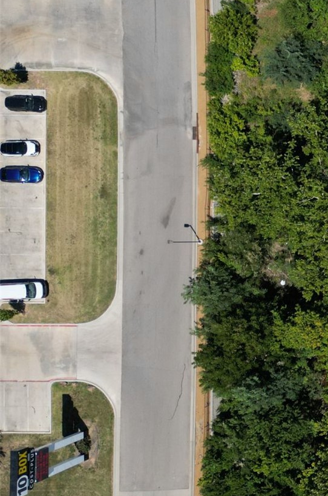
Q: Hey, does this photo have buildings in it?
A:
No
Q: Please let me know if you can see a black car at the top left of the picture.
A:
Yes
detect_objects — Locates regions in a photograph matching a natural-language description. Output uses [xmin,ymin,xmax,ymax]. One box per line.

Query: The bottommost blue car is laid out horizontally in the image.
[3,166,48,184]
